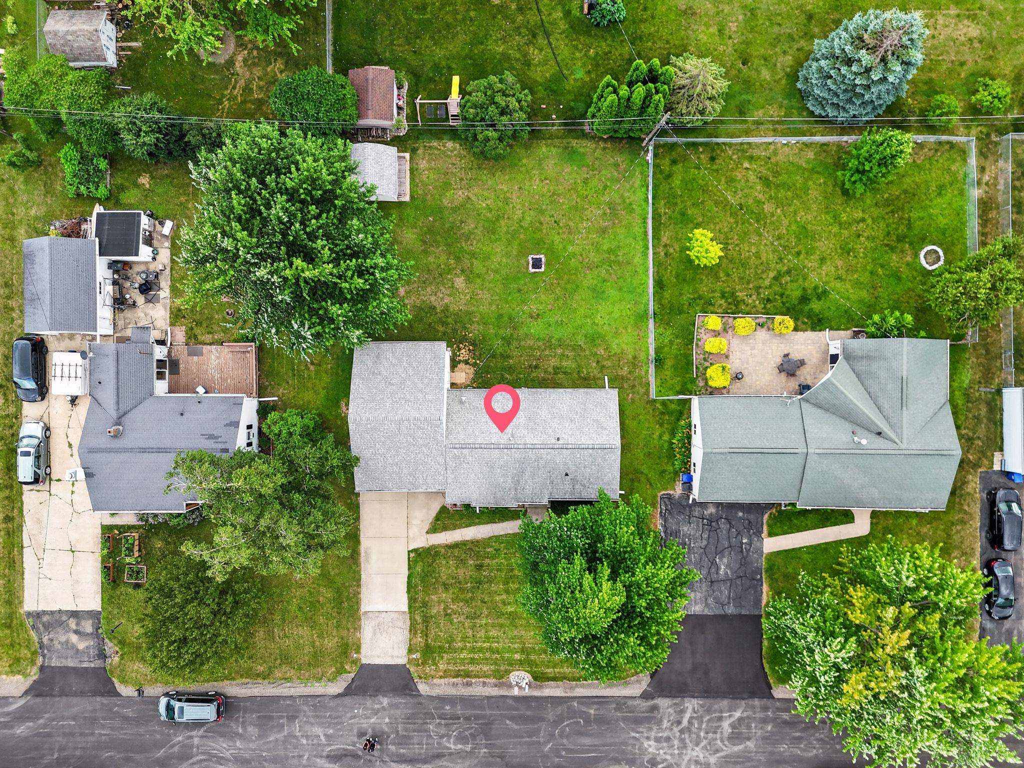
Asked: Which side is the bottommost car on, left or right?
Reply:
left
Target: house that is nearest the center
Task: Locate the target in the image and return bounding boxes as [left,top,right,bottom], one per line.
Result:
[347,340,626,514]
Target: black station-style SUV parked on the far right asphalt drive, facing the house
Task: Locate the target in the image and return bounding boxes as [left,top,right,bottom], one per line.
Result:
[987,487,1024,551]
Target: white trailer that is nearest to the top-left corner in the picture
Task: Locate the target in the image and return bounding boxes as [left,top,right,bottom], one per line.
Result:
[51,351,88,411]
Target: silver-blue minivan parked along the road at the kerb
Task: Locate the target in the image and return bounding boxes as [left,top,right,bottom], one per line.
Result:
[158,692,223,725]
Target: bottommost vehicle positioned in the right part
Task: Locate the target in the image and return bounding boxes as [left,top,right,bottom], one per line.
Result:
[985,560,1019,619]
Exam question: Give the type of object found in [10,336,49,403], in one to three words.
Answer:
car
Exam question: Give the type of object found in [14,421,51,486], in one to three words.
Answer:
car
